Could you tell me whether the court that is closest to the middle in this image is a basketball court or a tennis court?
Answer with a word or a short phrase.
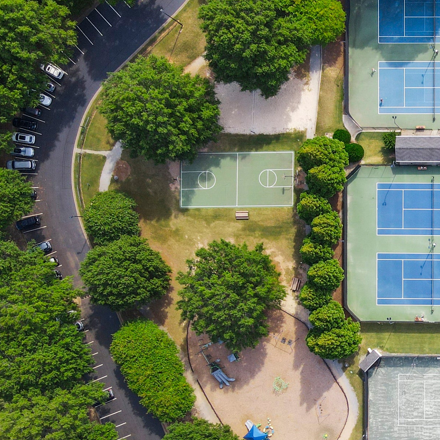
basketball court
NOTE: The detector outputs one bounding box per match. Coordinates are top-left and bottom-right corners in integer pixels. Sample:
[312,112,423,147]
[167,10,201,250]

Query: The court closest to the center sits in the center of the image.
[180,151,295,207]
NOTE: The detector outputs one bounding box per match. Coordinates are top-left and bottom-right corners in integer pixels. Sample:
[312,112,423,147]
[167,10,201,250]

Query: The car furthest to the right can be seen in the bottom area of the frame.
[90,390,114,405]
